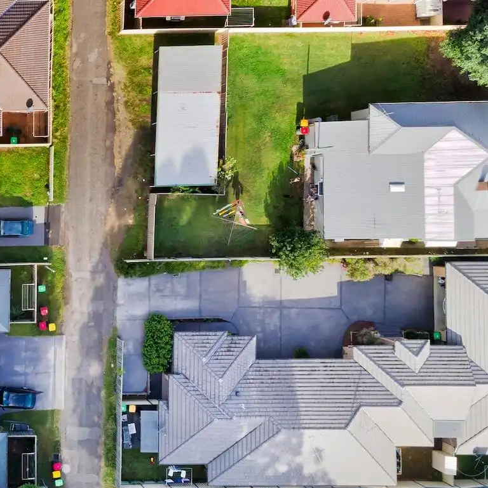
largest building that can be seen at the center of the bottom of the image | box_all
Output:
[157,329,434,487]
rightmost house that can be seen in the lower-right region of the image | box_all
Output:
[344,260,488,457]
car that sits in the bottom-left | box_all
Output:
[0,384,39,409]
